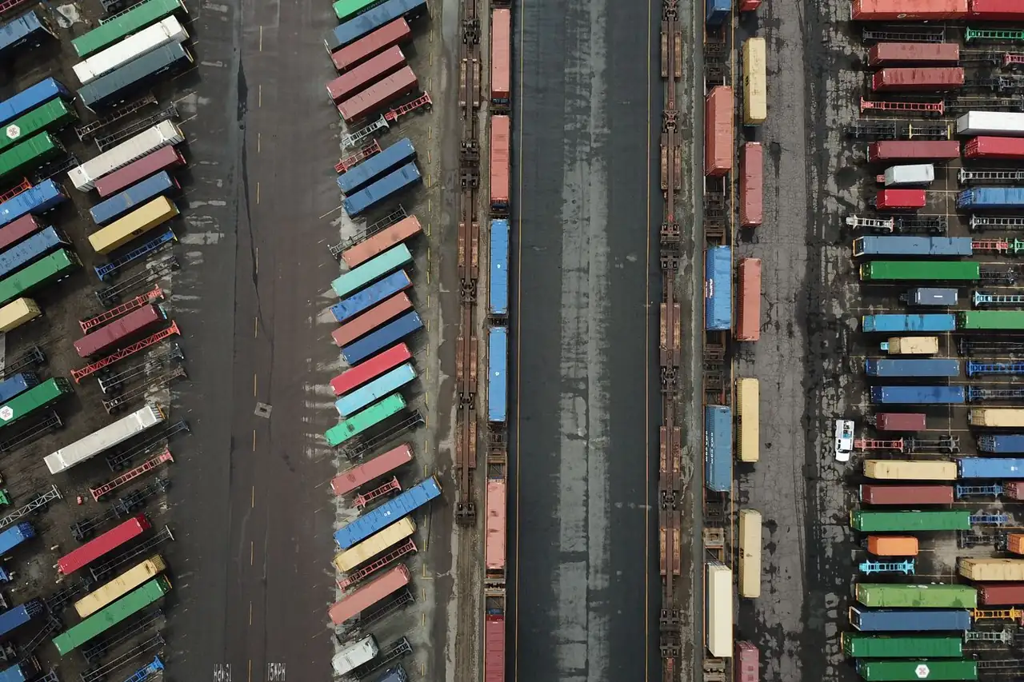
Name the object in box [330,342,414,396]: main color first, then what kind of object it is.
red shipping container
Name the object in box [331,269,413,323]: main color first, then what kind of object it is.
blue shipping container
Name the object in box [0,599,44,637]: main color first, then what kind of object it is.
blue shipping container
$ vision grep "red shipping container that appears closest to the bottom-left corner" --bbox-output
[58,514,151,575]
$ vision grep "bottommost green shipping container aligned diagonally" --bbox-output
[53,573,173,656]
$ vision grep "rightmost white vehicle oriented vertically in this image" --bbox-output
[834,420,853,460]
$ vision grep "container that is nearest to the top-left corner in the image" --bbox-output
[0,11,52,62]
